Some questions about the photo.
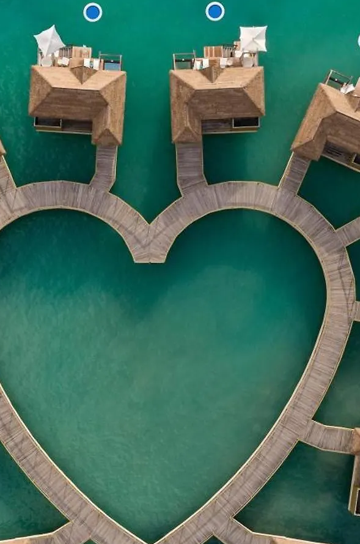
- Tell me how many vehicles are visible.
0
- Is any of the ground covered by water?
Yes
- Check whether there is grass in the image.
No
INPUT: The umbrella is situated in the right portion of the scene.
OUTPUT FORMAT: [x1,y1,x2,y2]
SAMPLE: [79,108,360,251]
[240,26,267,56]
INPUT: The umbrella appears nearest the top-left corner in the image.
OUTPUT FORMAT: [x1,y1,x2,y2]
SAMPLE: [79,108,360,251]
[33,25,65,56]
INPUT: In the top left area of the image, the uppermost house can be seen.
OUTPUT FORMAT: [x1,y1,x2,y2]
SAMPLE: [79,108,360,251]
[29,41,126,145]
